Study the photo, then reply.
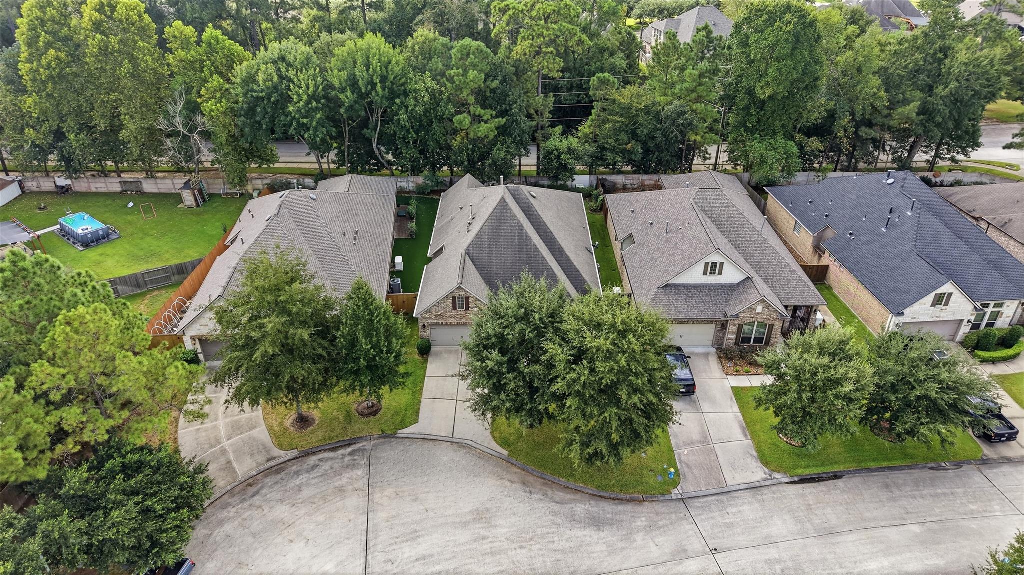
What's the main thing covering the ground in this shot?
trees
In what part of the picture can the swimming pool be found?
left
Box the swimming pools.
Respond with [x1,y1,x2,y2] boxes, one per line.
[57,212,112,248]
